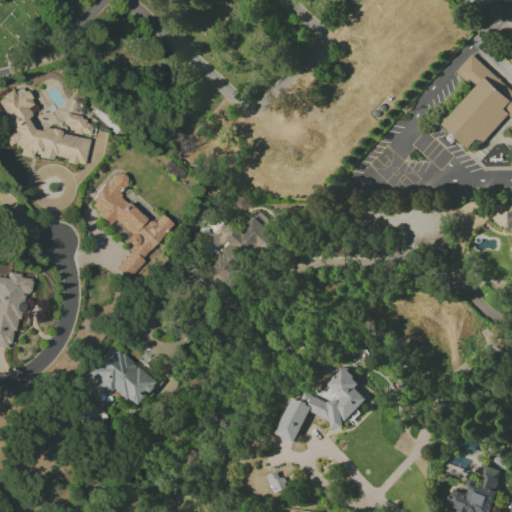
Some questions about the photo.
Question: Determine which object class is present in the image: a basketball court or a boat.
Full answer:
The image shows a basketball court.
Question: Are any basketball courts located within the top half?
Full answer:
Yes, you'll find a basketball court within the top half.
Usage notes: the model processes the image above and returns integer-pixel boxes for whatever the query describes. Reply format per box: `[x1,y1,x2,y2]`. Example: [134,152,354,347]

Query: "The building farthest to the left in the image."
[0,272,34,346]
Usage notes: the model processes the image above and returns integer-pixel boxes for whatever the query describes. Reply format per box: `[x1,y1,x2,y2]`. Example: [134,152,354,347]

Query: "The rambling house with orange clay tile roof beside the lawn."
[93,171,174,274]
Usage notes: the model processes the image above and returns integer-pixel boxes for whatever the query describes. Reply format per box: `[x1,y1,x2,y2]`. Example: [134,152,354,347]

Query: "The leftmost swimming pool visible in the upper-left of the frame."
[47,87,66,108]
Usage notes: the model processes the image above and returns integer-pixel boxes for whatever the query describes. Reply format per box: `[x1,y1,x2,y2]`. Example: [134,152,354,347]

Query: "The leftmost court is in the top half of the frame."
[371,145,422,194]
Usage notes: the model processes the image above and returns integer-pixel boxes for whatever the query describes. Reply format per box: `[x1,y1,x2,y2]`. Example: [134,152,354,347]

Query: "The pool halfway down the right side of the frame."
[475,234,502,252]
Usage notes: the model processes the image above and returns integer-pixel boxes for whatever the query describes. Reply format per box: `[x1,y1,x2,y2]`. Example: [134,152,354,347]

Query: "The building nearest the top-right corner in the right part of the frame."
[442,52,512,152]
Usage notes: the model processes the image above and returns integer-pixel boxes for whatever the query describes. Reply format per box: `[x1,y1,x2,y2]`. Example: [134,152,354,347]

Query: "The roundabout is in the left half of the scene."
[32,164,78,210]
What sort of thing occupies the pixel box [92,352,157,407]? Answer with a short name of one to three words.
house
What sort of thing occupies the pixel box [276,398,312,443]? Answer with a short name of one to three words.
barn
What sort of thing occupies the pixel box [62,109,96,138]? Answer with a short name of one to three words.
building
